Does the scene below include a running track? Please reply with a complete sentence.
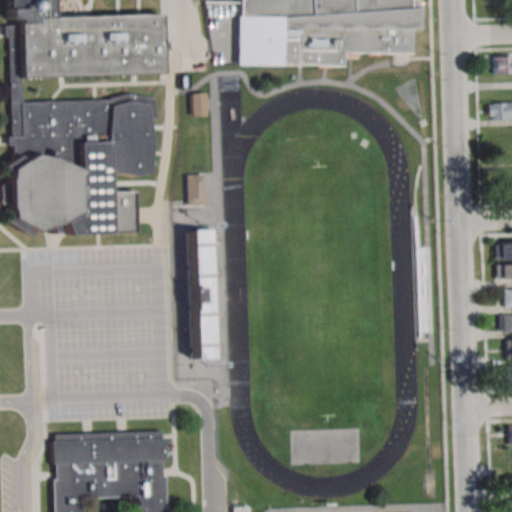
Yes, there is a running track in the image.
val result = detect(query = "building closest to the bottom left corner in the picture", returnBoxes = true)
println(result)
[48,431,174,512]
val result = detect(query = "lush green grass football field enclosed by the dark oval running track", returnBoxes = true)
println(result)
[244,106,396,477]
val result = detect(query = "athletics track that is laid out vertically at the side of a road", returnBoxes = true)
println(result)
[220,76,416,498]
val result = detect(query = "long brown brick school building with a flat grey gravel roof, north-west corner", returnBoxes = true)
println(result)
[6,0,168,80]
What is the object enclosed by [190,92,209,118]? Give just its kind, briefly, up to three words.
shed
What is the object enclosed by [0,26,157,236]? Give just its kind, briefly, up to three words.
building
